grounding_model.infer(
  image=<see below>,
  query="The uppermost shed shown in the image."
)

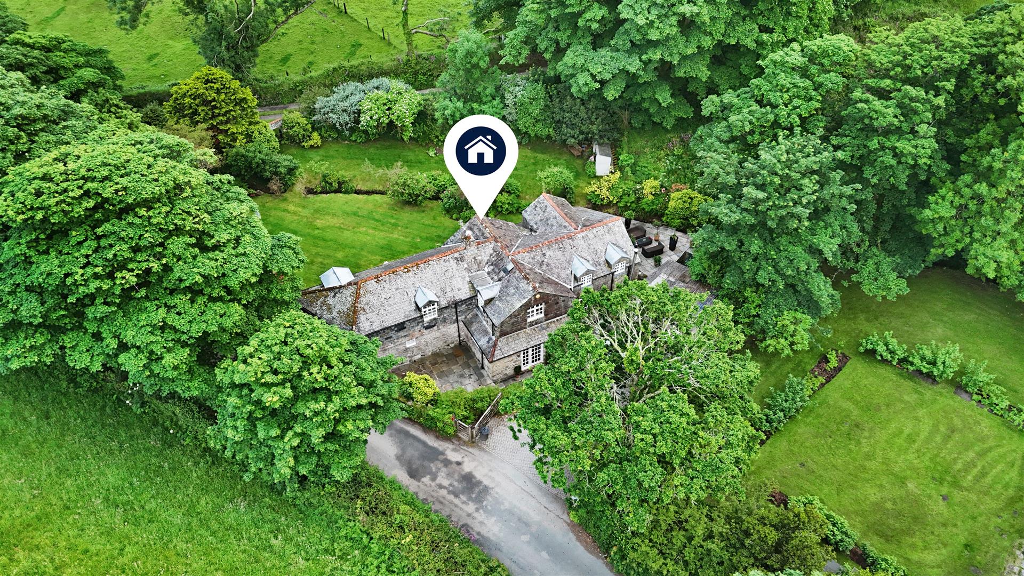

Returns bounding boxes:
[590,139,613,175]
